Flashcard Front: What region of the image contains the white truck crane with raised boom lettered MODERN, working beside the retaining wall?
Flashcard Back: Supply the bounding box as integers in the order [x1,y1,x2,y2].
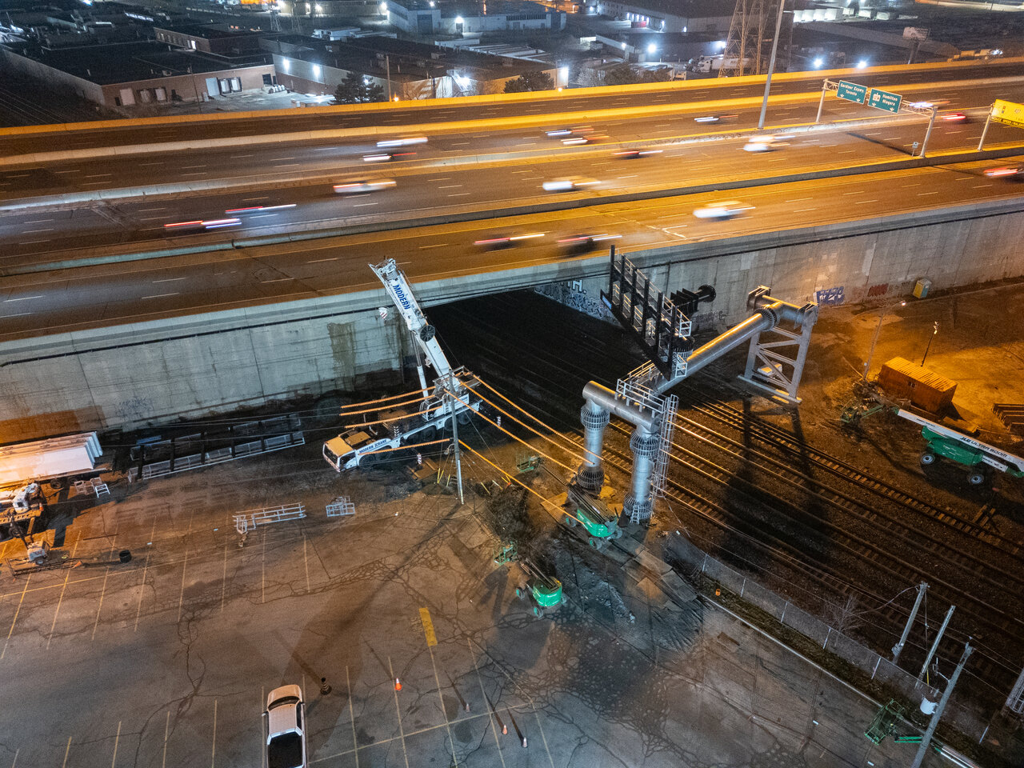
[321,255,501,468]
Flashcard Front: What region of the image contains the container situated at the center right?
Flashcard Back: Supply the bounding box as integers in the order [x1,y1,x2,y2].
[876,356,959,413]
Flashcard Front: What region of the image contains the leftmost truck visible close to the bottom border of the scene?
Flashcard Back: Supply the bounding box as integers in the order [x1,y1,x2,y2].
[260,678,307,768]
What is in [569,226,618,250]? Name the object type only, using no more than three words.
car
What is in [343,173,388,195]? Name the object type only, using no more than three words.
vehicle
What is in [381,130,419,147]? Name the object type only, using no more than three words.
vehicle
